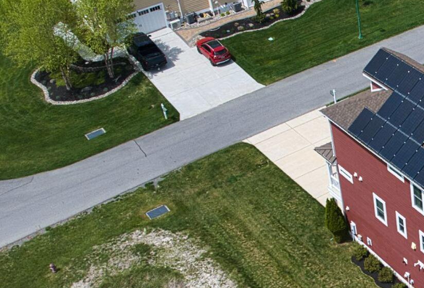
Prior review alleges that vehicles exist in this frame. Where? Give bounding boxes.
[125,31,164,65]
[196,33,229,61]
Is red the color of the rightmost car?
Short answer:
Yes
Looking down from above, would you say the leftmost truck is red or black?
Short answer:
black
